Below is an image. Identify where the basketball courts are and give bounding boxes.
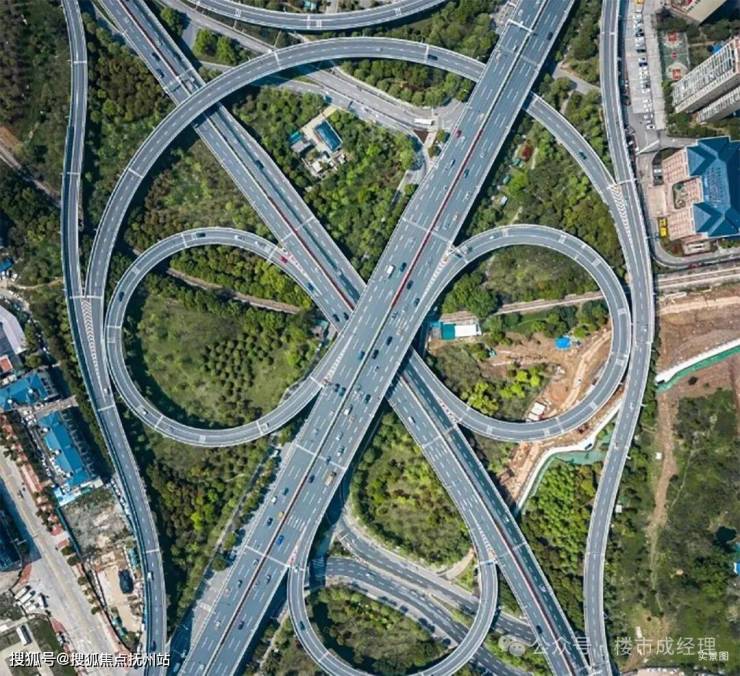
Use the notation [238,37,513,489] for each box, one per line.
[659,27,690,83]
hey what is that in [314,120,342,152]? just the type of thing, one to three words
shed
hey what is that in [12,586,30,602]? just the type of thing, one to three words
vehicle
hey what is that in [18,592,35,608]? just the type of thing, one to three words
vehicle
